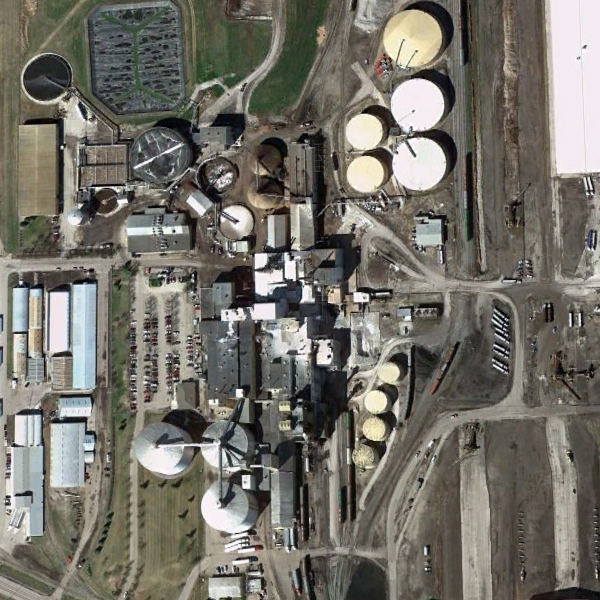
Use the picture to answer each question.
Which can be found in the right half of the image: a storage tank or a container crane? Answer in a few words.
storage tank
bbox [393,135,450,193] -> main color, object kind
white storage tank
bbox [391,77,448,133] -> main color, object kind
white storage tank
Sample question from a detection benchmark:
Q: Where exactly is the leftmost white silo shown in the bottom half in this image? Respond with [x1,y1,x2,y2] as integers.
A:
[135,421,193,475]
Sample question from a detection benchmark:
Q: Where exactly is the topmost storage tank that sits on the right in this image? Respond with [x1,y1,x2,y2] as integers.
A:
[384,8,445,69]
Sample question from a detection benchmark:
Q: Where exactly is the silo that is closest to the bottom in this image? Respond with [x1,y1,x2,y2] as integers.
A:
[201,480,257,533]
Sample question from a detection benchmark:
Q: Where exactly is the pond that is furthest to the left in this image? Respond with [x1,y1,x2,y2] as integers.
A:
[87,0,188,115]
